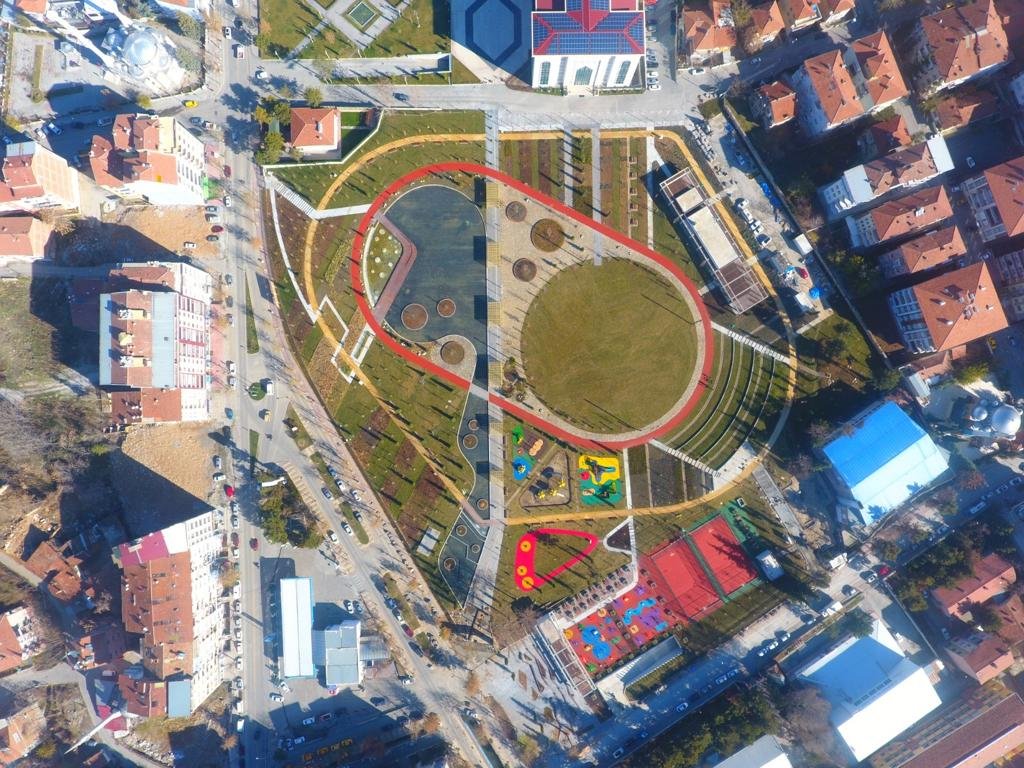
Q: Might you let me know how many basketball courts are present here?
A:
2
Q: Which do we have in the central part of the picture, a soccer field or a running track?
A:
running track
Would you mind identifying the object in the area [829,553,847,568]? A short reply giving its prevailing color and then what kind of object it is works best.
white vehicle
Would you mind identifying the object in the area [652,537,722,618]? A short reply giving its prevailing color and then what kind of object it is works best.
red basketball court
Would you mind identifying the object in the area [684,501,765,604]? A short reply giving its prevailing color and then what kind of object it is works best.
red basketball court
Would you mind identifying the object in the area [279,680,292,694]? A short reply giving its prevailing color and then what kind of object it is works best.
white vehicle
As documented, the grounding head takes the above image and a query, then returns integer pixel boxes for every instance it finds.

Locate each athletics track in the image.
[351,161,714,450]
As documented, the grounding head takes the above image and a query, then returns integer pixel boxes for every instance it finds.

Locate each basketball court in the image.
[652,537,722,618]
[684,501,765,604]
